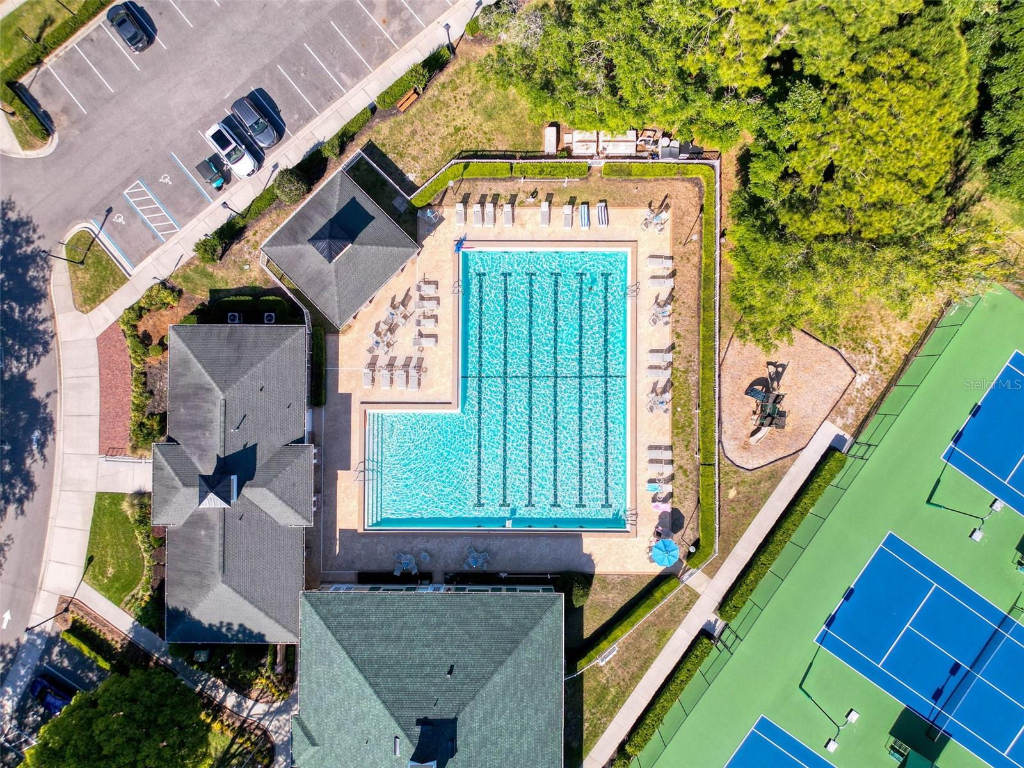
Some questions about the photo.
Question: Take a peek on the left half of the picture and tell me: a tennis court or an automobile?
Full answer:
The one visible on the left half of the picture is an automobile.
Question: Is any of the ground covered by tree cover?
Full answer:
Yes, some tree cover is visible.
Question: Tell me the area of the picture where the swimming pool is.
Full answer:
The swimming pool is located in the center region of the scene.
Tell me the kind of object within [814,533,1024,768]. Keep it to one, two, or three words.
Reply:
tennis court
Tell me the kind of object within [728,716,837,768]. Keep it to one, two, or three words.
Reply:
tennis court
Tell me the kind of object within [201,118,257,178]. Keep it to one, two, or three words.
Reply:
car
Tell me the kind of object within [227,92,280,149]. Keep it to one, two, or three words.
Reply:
car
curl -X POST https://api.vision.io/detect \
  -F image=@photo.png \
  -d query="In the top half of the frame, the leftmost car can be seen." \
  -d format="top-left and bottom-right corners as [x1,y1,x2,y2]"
[100,0,150,54]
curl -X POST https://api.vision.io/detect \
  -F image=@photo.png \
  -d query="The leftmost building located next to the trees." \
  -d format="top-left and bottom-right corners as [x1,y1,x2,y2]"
[150,323,328,645]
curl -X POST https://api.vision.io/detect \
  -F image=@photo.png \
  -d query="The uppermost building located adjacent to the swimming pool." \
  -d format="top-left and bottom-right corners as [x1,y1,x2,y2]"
[260,167,423,328]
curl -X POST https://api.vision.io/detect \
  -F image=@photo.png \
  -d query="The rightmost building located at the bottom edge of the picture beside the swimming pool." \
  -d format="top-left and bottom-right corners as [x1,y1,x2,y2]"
[290,581,565,768]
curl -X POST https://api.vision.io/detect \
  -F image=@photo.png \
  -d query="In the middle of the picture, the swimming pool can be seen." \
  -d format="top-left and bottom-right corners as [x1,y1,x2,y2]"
[354,241,640,538]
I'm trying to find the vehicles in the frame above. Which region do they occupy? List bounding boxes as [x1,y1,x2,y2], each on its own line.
[192,156,227,192]
[227,92,280,149]
[24,683,75,727]
[100,0,150,54]
[201,118,257,178]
